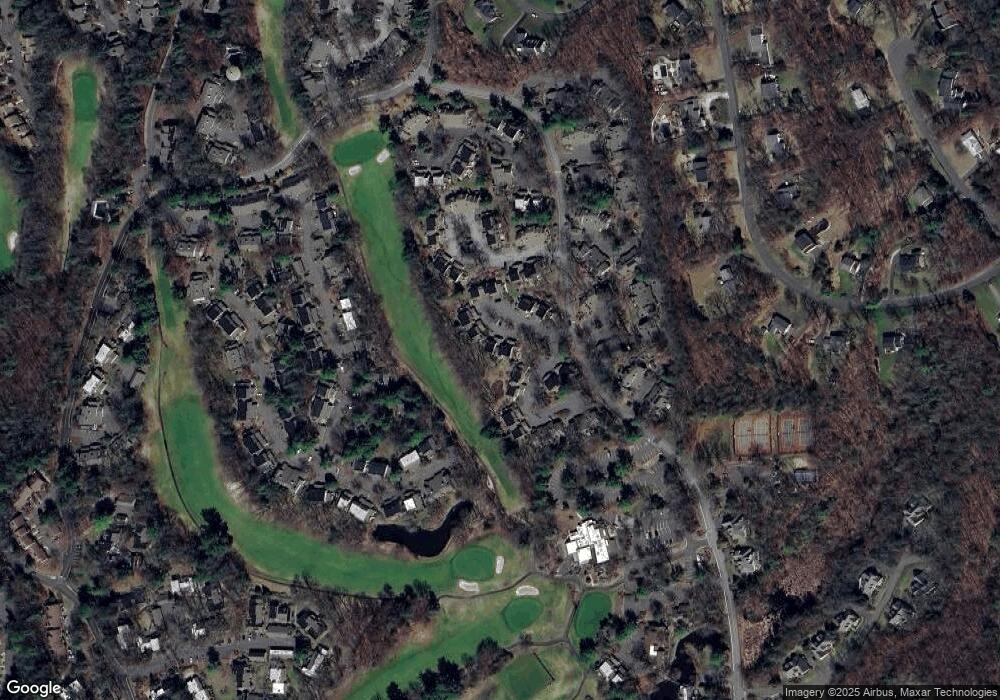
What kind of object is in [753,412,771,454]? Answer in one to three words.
tennis court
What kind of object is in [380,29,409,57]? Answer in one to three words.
house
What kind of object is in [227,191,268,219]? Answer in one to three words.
house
